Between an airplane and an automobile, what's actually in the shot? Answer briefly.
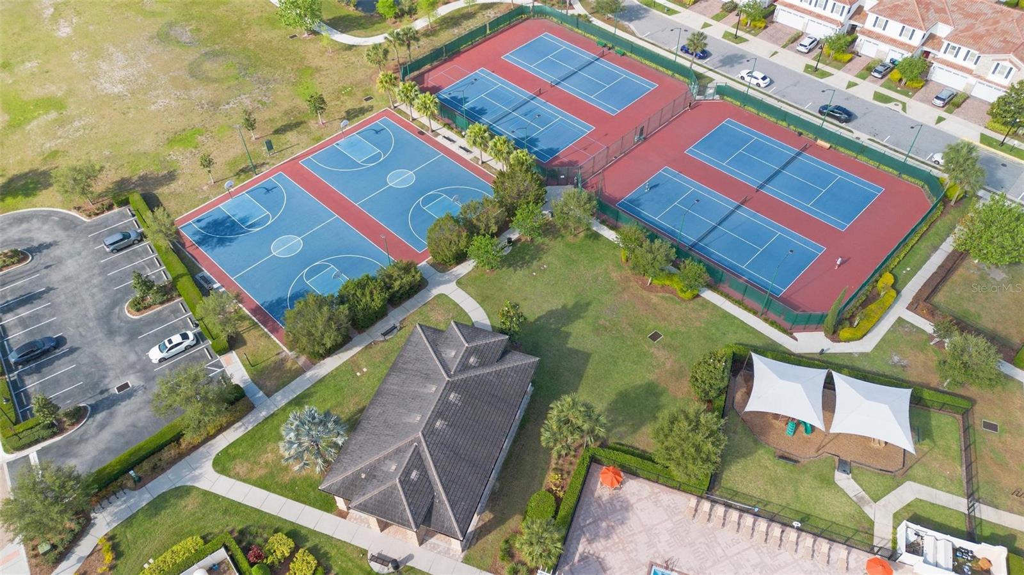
automobile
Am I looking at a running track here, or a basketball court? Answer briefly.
basketball court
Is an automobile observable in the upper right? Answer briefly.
Yes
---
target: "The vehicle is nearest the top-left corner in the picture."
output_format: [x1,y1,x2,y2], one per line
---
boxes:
[100,226,142,251]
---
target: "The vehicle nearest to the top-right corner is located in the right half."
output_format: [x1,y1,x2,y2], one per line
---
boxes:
[934,89,954,109]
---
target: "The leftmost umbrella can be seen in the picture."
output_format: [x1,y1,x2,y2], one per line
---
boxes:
[599,470,625,495]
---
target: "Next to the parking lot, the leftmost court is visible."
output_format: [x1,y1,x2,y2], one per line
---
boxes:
[179,172,399,327]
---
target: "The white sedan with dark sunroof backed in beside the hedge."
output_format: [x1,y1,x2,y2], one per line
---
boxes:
[147,330,196,363]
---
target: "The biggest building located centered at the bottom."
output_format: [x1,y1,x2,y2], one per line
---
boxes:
[317,322,538,567]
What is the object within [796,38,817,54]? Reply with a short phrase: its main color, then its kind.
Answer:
white car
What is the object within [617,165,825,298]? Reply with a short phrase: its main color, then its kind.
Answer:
blue tennis court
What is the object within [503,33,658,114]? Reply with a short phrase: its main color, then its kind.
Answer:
blue tennis court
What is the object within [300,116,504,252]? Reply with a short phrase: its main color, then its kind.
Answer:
blue basketball court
